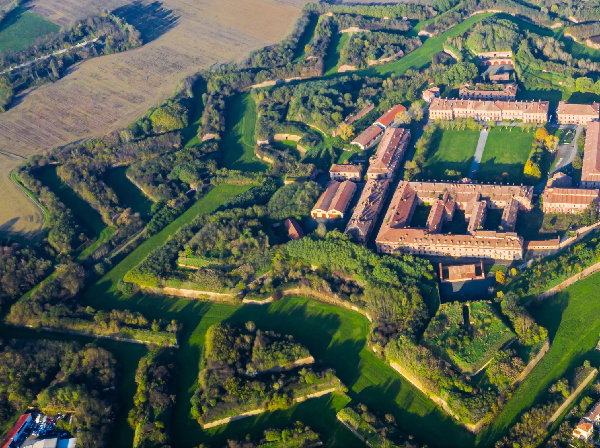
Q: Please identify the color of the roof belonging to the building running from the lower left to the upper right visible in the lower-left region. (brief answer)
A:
red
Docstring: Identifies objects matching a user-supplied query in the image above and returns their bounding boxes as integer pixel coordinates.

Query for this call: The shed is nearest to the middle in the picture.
[283,219,305,243]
